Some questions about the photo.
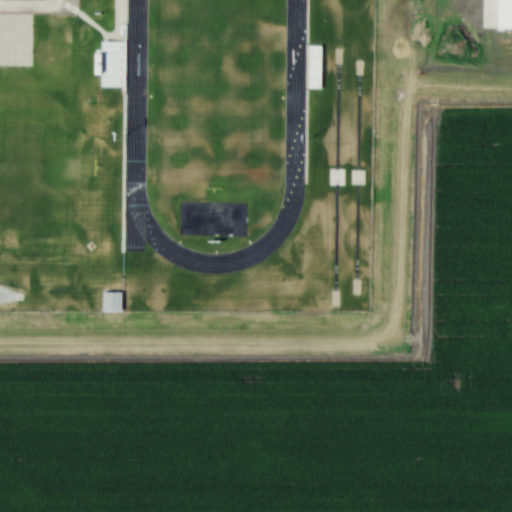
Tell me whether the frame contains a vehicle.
No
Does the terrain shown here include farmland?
Yes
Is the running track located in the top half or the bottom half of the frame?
top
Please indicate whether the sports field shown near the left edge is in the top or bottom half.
top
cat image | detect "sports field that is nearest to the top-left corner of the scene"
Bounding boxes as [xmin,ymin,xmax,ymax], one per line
[0,120,98,217]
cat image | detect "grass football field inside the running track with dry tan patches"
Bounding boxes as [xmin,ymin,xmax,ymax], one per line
[148,0,286,254]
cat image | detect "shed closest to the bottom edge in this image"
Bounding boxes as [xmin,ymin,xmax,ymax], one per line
[104,292,124,312]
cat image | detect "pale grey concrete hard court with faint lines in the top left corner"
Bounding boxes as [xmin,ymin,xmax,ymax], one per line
[0,14,34,68]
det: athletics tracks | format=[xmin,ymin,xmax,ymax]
[128,0,306,274]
